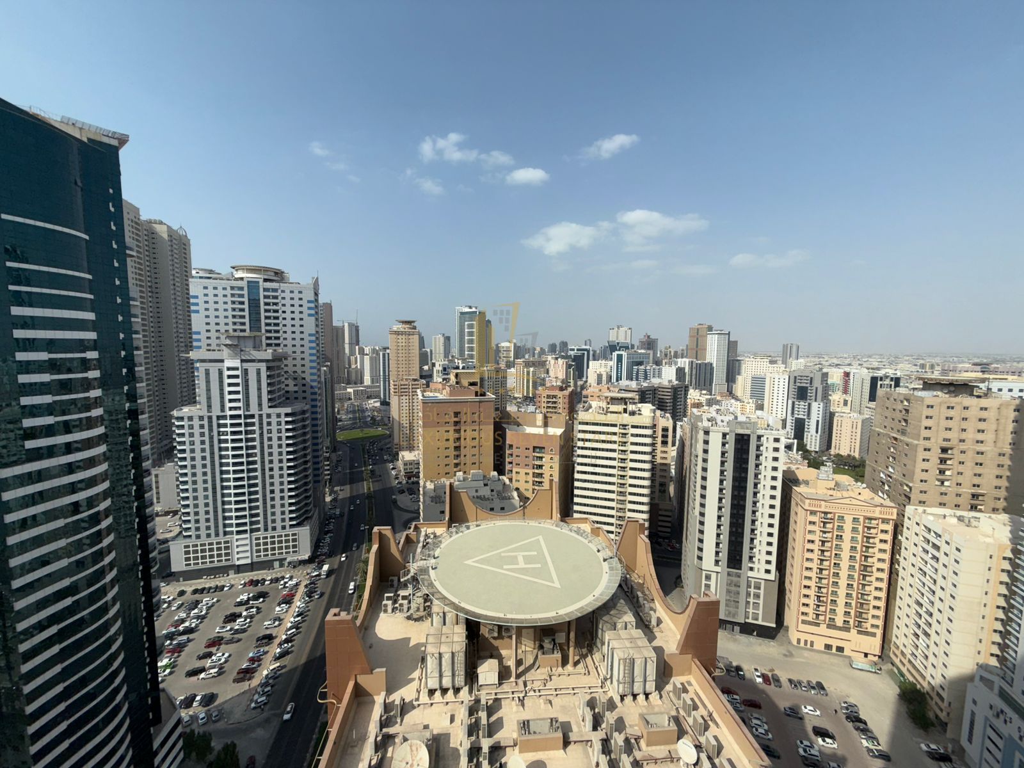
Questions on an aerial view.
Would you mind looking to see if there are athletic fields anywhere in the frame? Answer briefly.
No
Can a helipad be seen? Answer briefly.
Yes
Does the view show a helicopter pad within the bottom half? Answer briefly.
Yes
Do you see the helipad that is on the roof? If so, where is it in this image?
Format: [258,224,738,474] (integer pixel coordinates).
[418,510,625,687]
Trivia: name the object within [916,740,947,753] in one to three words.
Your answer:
vehicle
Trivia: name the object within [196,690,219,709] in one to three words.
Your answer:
car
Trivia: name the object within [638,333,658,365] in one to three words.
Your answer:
building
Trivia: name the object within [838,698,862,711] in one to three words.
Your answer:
vehicle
